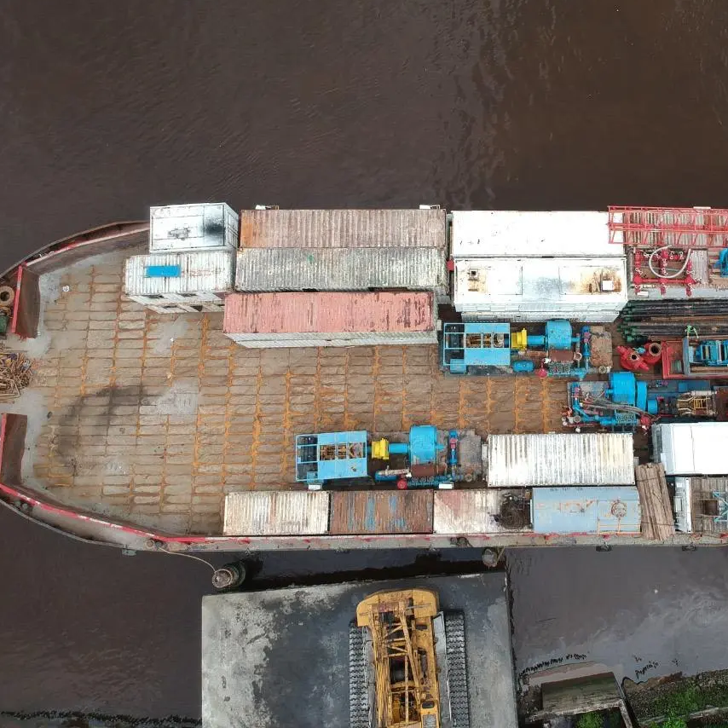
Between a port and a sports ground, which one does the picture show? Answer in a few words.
port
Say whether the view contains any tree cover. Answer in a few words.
No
